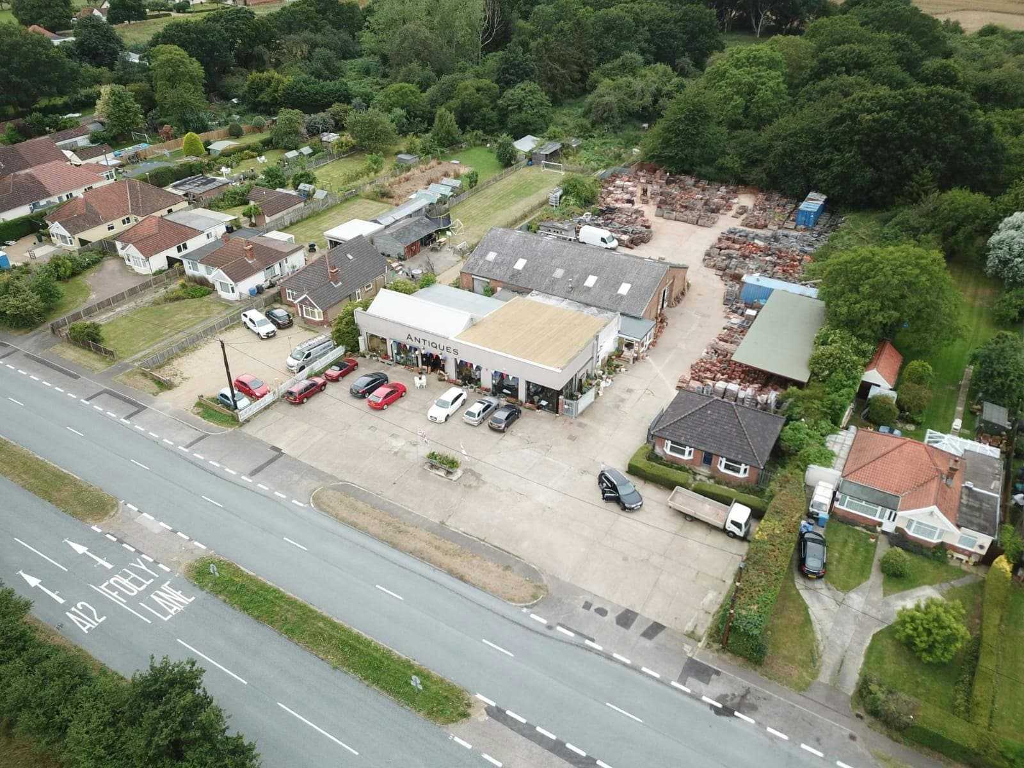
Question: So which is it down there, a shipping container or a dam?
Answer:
shipping container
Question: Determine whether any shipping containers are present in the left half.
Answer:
No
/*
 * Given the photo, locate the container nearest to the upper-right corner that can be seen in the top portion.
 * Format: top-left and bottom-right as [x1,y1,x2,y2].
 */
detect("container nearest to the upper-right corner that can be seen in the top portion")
[796,193,827,229]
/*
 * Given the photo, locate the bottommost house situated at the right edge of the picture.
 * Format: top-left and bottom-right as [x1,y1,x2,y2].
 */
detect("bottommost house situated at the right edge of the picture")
[822,423,1005,562]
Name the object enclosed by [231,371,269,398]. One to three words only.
car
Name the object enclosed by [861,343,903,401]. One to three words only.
building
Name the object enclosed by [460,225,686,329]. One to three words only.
barn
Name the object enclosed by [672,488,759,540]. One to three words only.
truck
